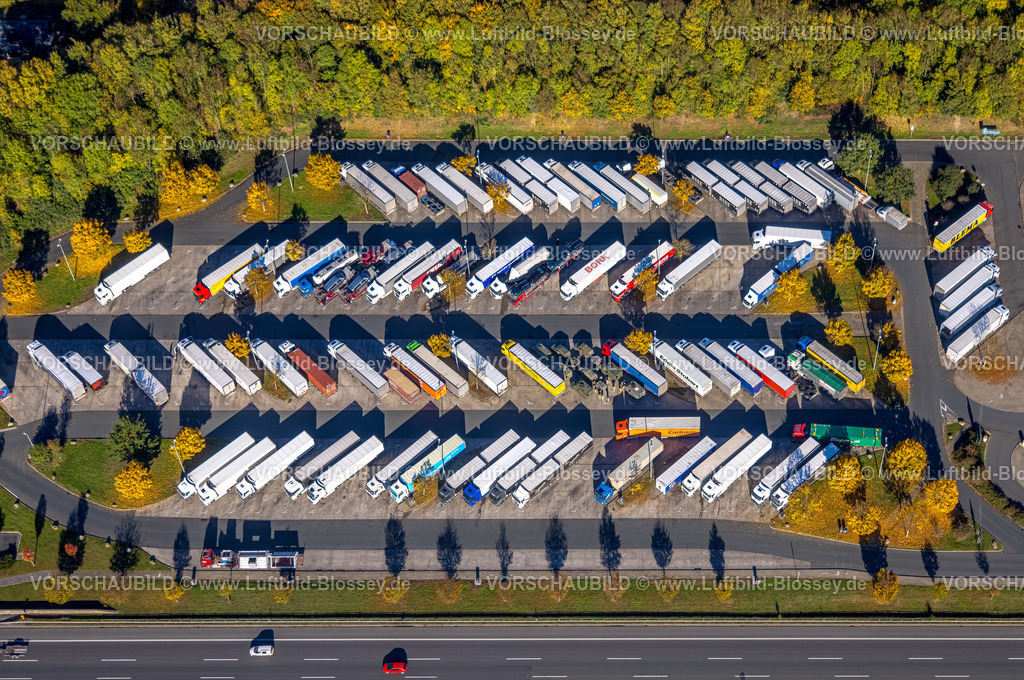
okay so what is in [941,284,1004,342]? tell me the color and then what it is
white truck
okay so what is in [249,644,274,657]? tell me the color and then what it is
white vehicle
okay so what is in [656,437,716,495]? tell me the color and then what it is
white trailer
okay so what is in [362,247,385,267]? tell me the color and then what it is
red car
